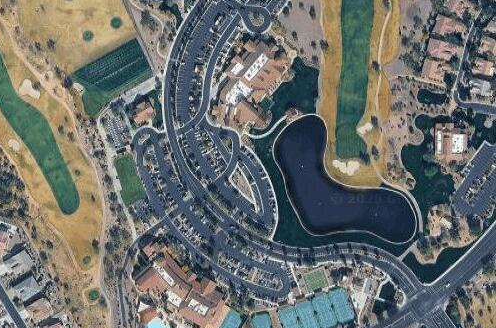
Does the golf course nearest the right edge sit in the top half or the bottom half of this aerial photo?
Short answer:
top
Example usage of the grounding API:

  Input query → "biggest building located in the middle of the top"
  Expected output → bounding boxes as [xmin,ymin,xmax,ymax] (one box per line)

[218,41,290,135]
